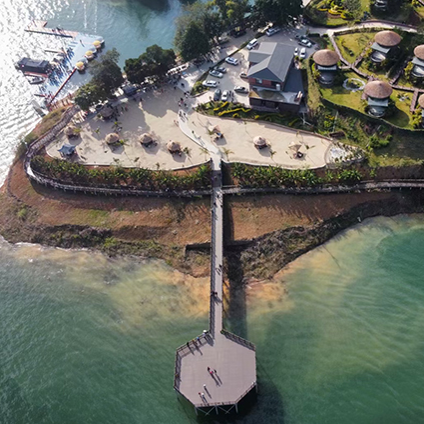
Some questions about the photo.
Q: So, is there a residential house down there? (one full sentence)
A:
Yes, this view includes a residential house.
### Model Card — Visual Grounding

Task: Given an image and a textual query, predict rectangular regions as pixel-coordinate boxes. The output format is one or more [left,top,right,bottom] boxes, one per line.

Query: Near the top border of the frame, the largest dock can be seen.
[24,21,103,104]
